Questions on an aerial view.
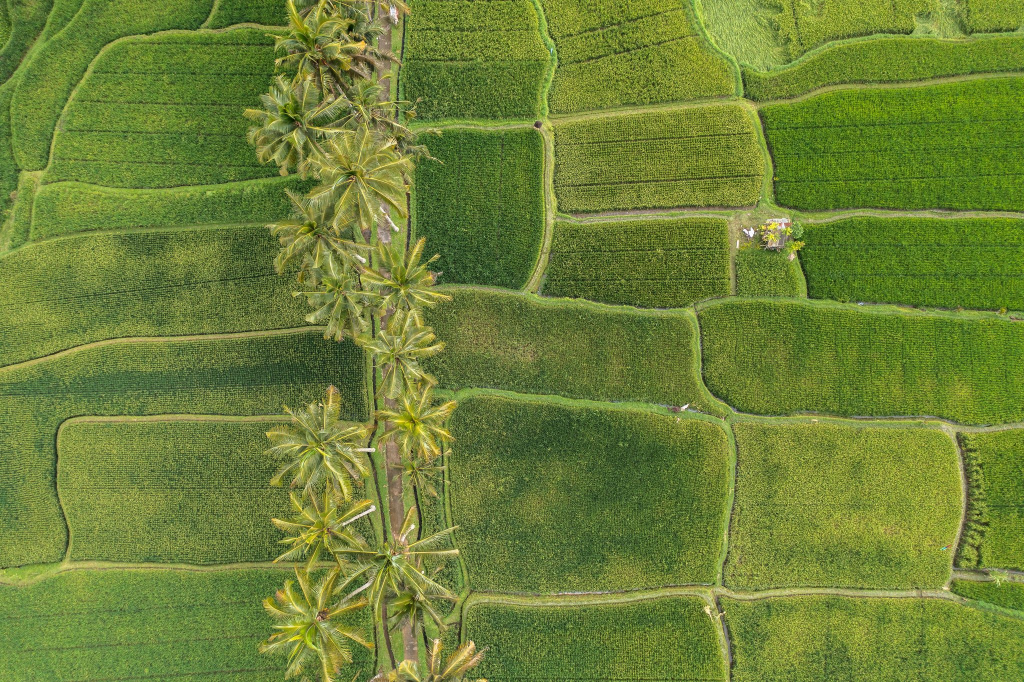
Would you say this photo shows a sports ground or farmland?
farmland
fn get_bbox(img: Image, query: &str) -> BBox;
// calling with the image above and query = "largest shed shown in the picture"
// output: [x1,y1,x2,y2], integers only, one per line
[758,218,794,250]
